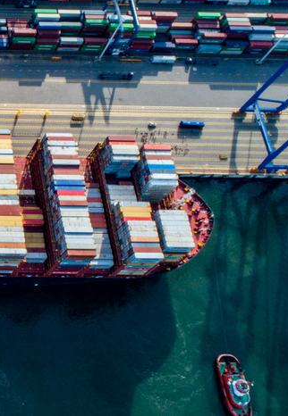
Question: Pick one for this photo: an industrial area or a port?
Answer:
port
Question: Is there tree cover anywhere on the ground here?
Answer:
No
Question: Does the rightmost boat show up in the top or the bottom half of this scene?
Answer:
bottom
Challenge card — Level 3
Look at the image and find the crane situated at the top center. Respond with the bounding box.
[103,0,142,53]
